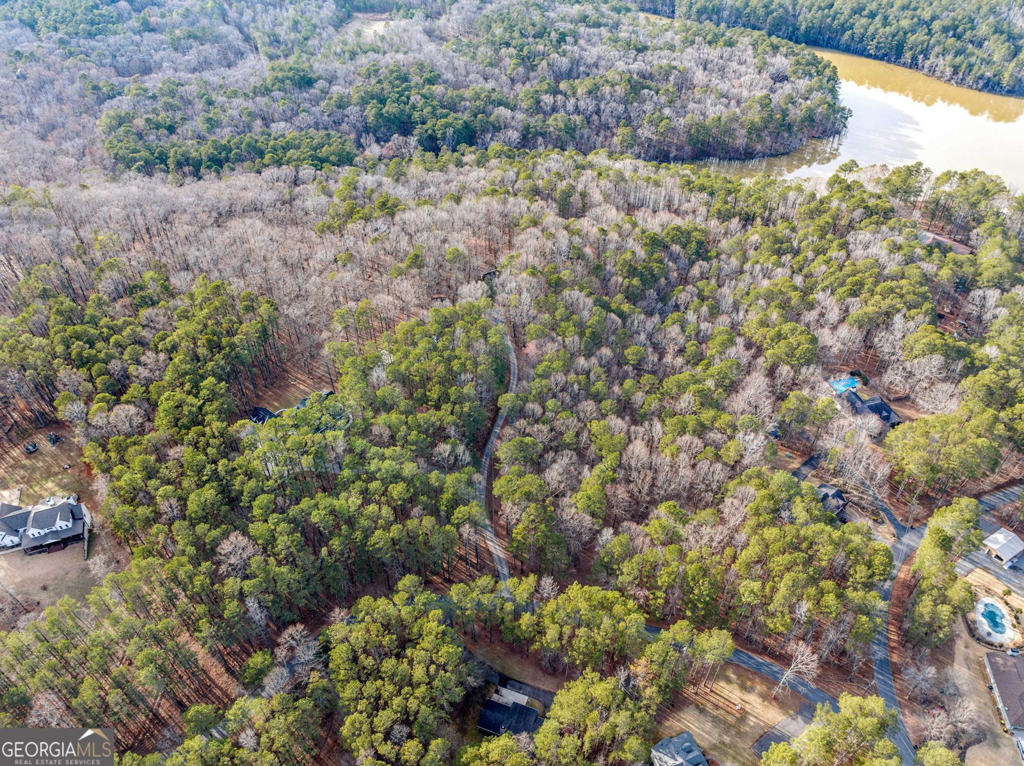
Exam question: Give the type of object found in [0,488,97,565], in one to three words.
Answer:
house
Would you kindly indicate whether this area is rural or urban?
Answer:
rural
